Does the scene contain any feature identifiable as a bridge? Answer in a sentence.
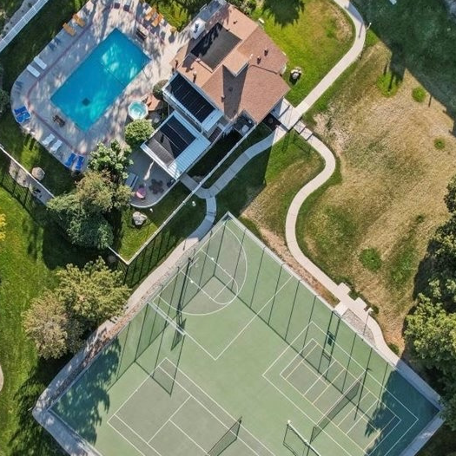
No, the frame has no bridge in it.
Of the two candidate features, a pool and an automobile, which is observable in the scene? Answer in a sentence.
Visible in the photo is a pool.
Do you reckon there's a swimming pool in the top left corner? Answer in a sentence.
Yes, you'll find a swimming pool in the top left corner.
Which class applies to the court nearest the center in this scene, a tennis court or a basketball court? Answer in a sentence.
It looks like the court nearest the center is a basketball court.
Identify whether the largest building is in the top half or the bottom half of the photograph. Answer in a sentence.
It is in the top half that the largest building appears.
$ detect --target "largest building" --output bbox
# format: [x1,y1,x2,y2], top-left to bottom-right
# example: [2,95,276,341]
[169,3,290,133]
